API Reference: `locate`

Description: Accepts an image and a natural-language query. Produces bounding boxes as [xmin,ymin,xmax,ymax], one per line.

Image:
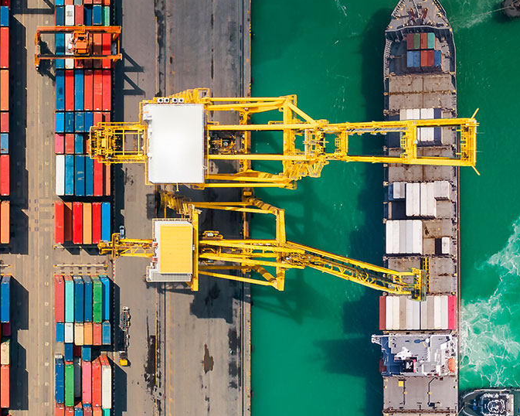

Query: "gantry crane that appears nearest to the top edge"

[32,25,123,70]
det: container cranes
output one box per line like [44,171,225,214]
[32,25,123,70]
[87,84,480,192]
[98,186,422,309]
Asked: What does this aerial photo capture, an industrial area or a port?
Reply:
port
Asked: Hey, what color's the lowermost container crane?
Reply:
yellow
